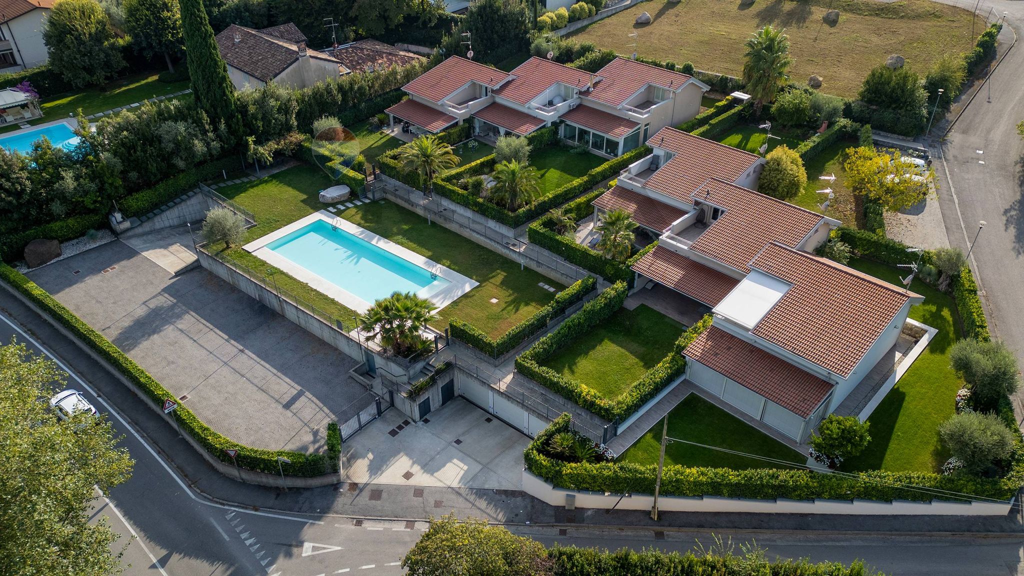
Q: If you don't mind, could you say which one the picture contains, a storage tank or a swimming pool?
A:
swimming pool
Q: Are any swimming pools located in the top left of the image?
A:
Yes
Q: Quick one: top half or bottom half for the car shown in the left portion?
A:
bottom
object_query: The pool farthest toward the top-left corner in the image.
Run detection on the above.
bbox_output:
[0,117,96,161]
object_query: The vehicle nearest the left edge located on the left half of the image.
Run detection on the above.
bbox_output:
[55,393,100,430]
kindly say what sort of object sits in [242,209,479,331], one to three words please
swimming pool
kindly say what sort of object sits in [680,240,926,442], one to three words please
house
